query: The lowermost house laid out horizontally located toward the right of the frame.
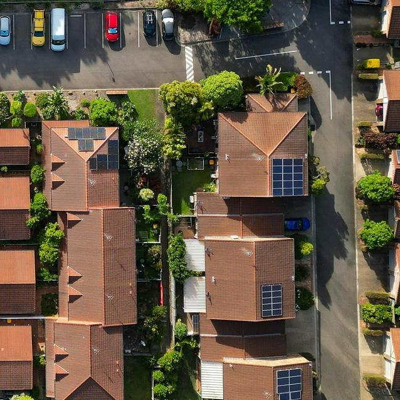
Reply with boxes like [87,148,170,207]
[221,355,313,400]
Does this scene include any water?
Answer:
No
